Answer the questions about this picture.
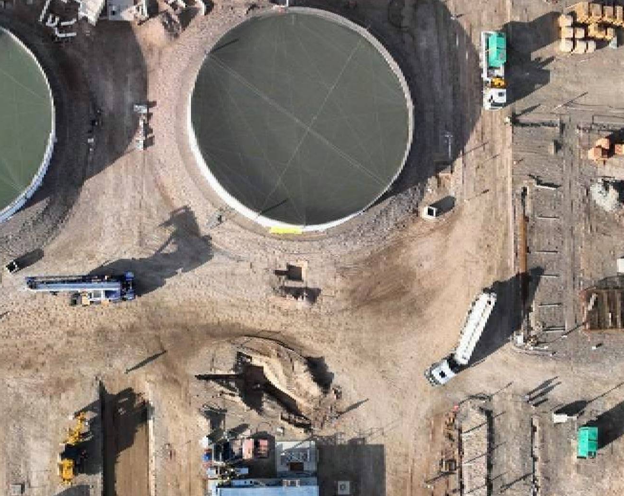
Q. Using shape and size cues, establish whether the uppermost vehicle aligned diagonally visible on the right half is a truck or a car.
truck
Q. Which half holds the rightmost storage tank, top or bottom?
top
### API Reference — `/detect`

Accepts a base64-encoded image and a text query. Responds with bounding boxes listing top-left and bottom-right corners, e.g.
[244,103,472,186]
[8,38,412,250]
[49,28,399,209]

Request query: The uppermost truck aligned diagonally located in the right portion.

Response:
[420,281,502,390]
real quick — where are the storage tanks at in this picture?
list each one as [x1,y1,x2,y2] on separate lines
[181,0,415,243]
[0,27,58,231]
